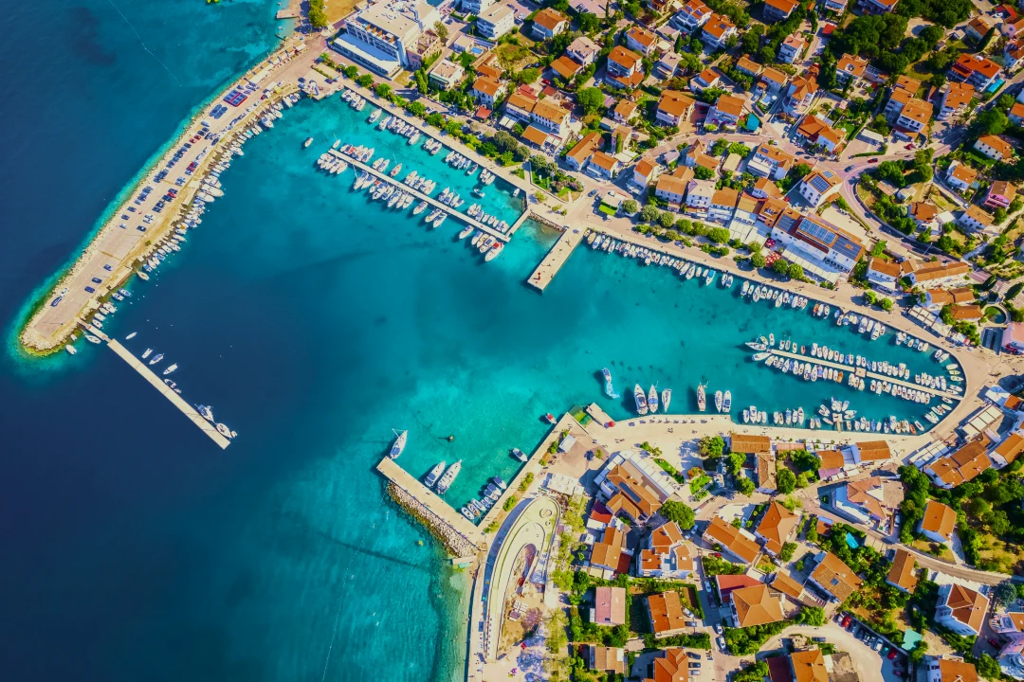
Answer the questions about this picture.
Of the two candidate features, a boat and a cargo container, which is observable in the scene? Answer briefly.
boat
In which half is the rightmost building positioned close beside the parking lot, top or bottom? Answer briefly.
top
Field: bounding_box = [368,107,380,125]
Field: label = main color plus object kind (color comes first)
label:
white boat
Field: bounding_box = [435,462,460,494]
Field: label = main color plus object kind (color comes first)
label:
white boat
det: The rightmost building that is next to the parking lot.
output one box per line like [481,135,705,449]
[333,0,443,81]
